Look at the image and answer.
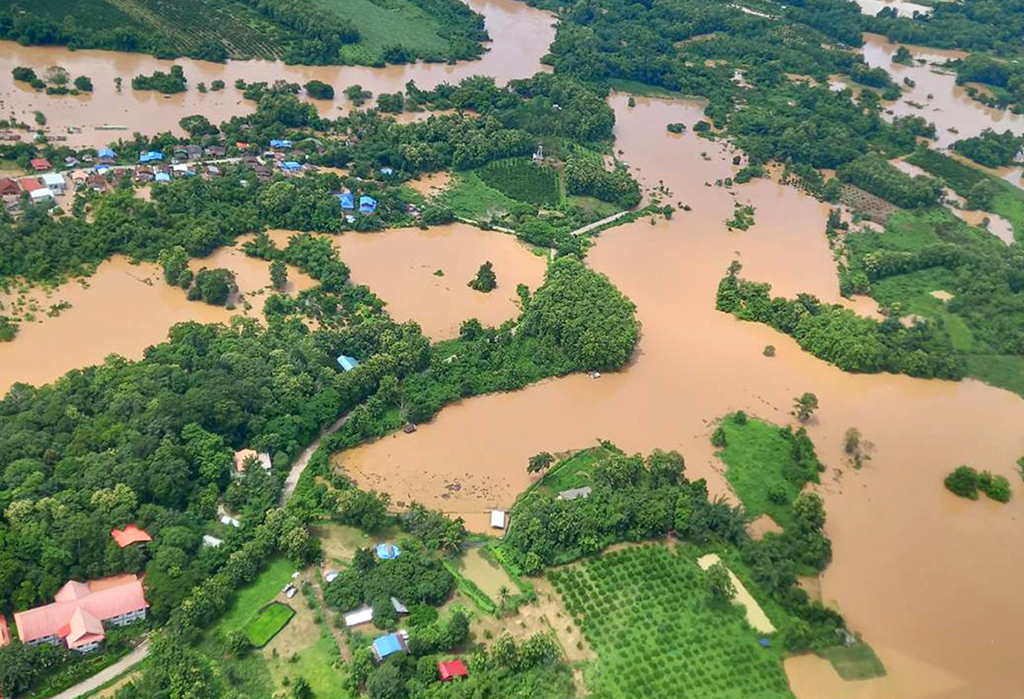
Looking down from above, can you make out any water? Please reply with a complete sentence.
Yes, the picture does contain water.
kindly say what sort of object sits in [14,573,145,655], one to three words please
building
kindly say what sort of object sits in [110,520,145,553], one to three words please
house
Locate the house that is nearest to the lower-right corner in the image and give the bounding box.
[557,481,591,502]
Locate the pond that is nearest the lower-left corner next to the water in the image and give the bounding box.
[453,547,524,604]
